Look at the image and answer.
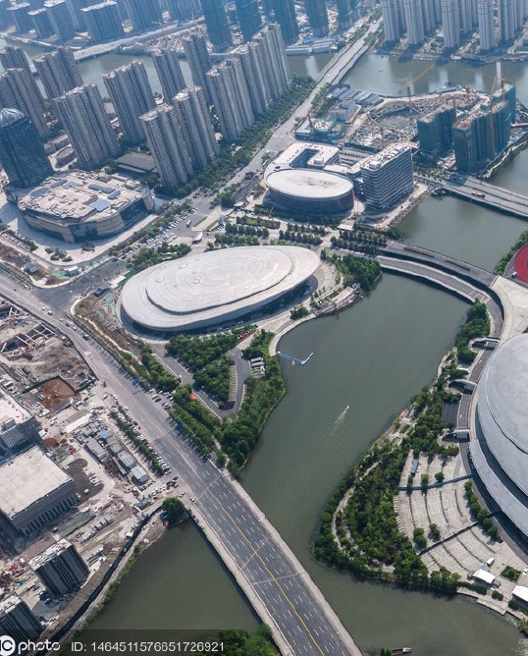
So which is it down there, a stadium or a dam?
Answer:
stadium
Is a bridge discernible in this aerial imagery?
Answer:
Yes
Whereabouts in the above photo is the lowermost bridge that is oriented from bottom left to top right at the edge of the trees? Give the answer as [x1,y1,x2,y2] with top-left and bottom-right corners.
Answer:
[308,46,370,102]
